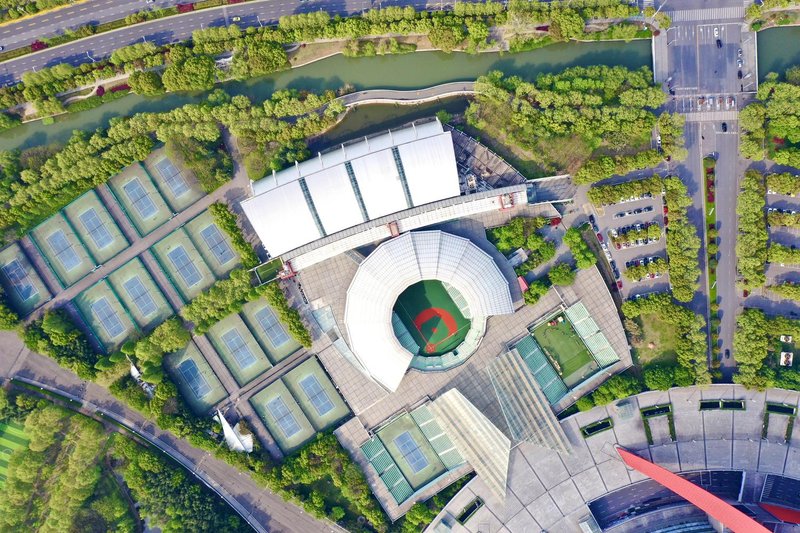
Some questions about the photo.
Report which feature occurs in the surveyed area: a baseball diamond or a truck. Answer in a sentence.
The one in the frame is a baseball diamond.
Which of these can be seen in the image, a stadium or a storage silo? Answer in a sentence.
The one in the frame is a stadium.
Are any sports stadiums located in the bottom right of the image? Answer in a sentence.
Yes, I can see a sports stadium in the bottom right of the image.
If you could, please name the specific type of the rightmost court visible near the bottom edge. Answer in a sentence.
From above, the rightmost court visible near the bottom edge can be identified as a tennis court.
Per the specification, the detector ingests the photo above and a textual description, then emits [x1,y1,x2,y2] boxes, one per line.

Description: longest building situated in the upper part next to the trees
[238,116,462,258]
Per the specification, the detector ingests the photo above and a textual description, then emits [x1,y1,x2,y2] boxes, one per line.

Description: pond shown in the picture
[291,92,473,164]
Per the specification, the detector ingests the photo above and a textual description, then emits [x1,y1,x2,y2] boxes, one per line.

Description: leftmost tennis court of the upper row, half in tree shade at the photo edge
[0,245,50,318]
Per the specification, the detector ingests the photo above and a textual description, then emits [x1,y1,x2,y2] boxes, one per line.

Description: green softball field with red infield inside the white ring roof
[393,281,470,356]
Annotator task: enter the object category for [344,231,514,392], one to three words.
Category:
stadium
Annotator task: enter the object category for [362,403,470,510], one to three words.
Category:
tennis court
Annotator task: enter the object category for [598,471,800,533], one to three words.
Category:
stadium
